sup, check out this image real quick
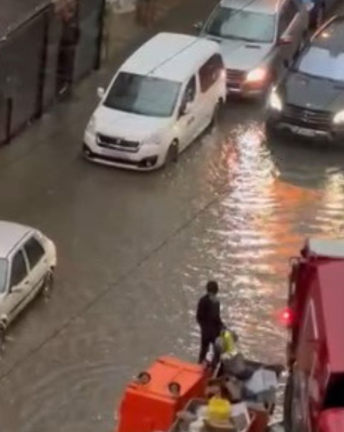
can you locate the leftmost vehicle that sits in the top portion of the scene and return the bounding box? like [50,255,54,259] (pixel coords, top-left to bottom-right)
[85,27,232,174]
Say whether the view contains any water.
Yes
